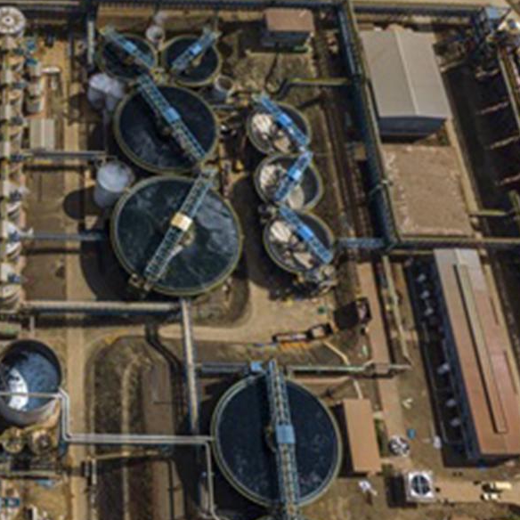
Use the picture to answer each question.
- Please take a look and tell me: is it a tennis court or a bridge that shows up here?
bridge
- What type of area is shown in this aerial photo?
industrial area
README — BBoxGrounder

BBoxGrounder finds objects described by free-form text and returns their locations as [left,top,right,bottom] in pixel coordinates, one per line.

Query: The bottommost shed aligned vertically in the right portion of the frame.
[337,400,383,474]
